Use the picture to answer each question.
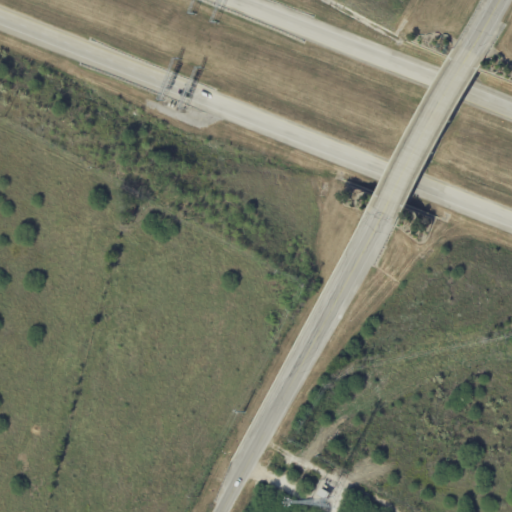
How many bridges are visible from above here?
1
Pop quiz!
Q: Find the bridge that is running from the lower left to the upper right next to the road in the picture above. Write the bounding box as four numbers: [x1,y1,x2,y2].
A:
[373,57,480,208]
